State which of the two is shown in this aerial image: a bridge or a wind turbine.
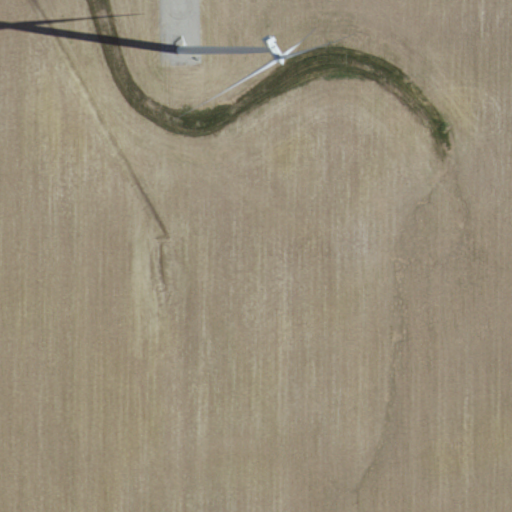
wind turbine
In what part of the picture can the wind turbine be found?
top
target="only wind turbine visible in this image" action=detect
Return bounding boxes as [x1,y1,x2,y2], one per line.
[176,30,345,108]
